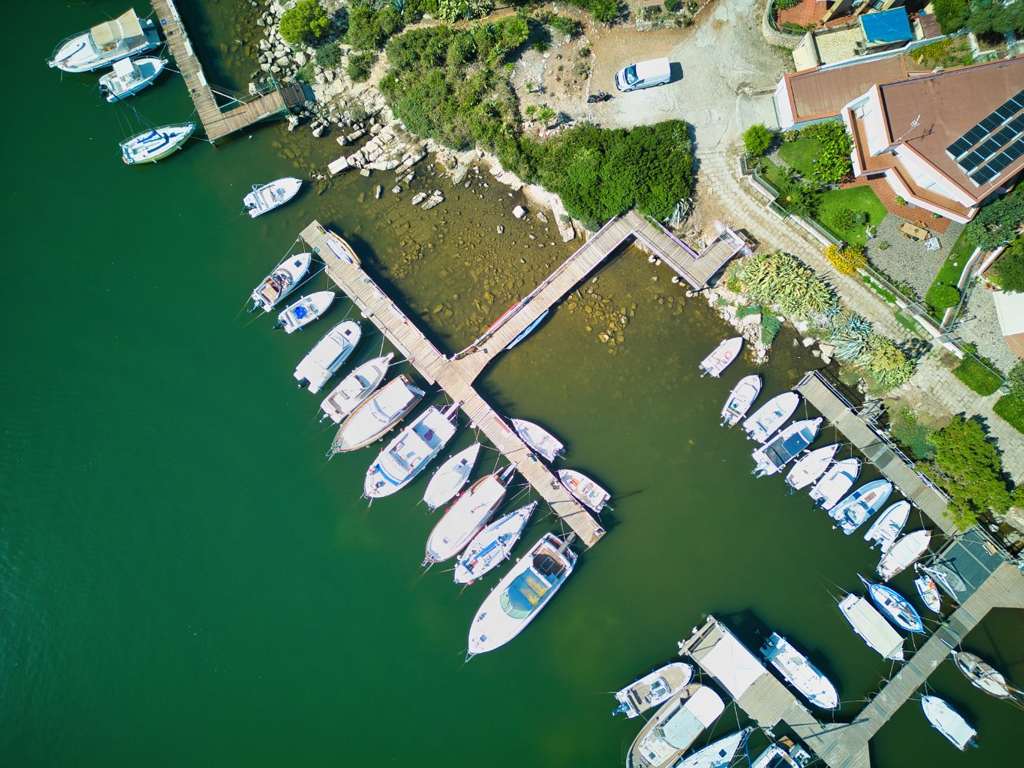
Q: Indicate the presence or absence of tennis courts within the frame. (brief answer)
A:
No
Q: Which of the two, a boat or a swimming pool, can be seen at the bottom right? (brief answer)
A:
boat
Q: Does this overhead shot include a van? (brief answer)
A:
Yes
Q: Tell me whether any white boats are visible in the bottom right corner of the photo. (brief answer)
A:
Yes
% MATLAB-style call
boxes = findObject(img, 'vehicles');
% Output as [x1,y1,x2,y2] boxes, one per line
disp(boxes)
[613,60,674,94]
[587,88,608,102]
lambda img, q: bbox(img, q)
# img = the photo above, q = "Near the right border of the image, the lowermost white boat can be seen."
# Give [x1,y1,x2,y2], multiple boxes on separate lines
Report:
[916,691,980,752]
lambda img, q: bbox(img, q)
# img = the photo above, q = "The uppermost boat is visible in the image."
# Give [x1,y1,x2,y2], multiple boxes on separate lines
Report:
[43,10,170,73]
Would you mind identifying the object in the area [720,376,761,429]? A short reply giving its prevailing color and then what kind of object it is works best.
white boat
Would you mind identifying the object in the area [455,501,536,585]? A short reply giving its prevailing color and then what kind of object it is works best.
white boat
